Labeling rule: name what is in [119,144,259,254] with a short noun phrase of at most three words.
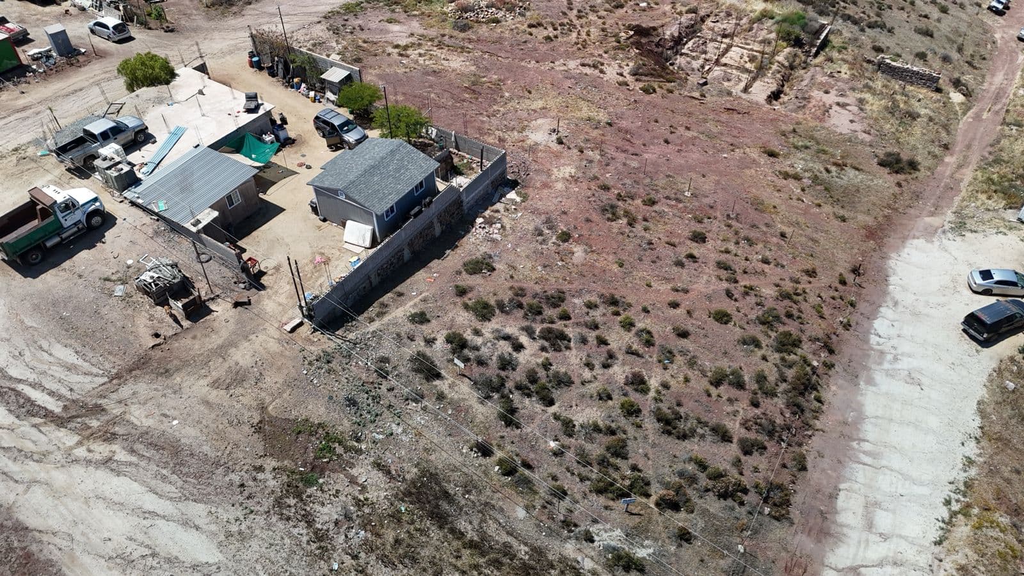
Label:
house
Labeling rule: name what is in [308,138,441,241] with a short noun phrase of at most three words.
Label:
house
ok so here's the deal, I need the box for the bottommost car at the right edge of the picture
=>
[968,294,1024,342]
